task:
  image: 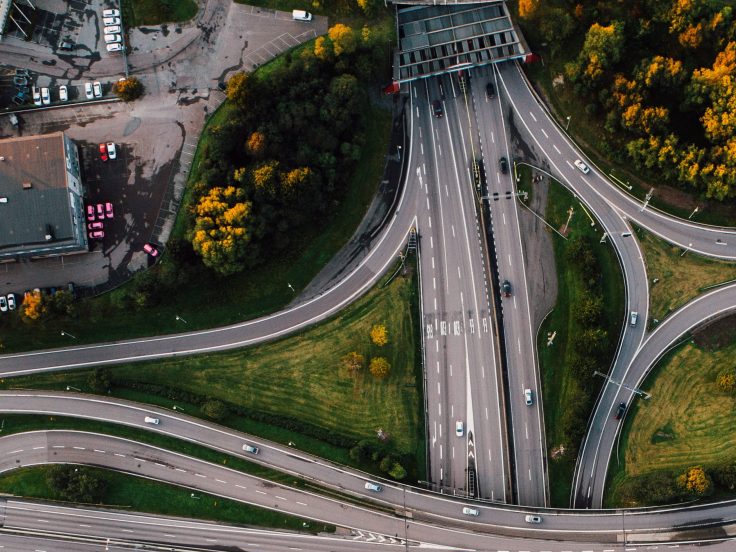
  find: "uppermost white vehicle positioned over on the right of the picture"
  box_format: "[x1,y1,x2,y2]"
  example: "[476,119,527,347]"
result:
[574,159,588,174]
